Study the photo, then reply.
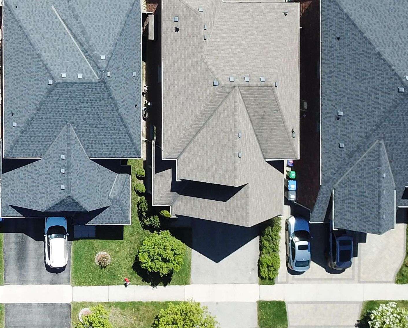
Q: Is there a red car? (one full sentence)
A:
No, the photo shows no red car.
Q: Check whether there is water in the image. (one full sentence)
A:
No, the scene doesn't show any water.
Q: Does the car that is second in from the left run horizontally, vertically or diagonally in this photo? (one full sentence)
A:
I'd say the car that is second in from the left is aligned vertically in the picture.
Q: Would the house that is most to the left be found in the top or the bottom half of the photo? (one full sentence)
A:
It is in the top half that the house that is most to the left appears.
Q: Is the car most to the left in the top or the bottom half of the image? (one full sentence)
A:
The car most to the left is in the bottom half of the image.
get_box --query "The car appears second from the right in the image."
[283,215,312,275]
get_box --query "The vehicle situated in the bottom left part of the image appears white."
[43,218,70,269]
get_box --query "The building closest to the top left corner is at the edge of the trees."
[0,0,143,226]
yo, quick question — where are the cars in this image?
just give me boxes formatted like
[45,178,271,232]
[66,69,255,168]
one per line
[43,218,70,269]
[283,215,312,275]
[323,218,351,271]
